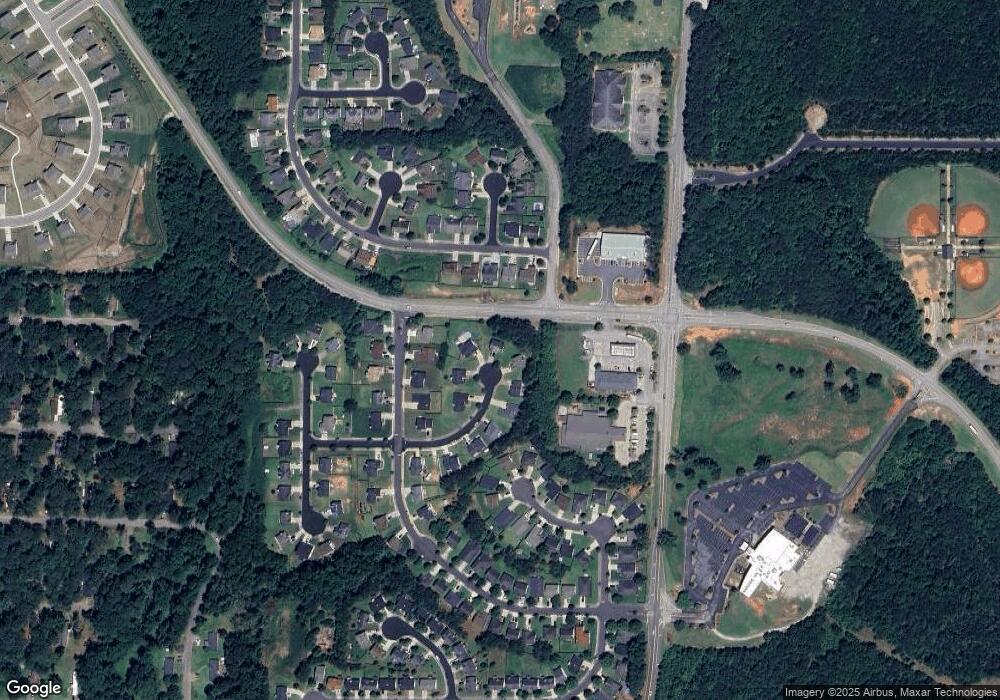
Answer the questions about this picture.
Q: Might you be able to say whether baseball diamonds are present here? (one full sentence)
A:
Yes, the picture does show a baseball diamond.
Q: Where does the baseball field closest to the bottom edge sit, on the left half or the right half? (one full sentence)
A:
You can find the baseball field closest to the bottom edge on the right side of the picture.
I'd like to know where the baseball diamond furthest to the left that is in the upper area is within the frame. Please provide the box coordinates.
[869,165,939,238]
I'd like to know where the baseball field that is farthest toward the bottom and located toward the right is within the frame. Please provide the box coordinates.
[956,259,1000,318]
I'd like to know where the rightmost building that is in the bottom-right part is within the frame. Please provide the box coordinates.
[739,529,803,597]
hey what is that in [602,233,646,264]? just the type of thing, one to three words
building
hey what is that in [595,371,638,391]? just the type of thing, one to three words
building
